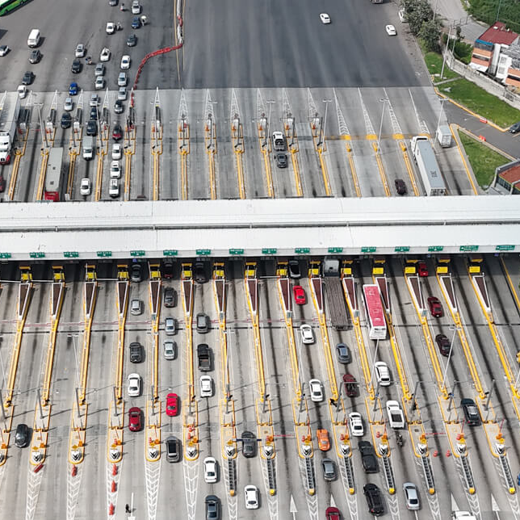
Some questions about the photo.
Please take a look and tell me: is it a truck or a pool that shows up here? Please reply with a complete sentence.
The image shows a truck.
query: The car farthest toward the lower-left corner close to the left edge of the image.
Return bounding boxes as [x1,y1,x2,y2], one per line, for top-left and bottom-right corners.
[13,422,30,449]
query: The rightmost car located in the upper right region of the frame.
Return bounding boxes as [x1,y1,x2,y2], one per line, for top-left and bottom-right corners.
[506,121,520,134]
